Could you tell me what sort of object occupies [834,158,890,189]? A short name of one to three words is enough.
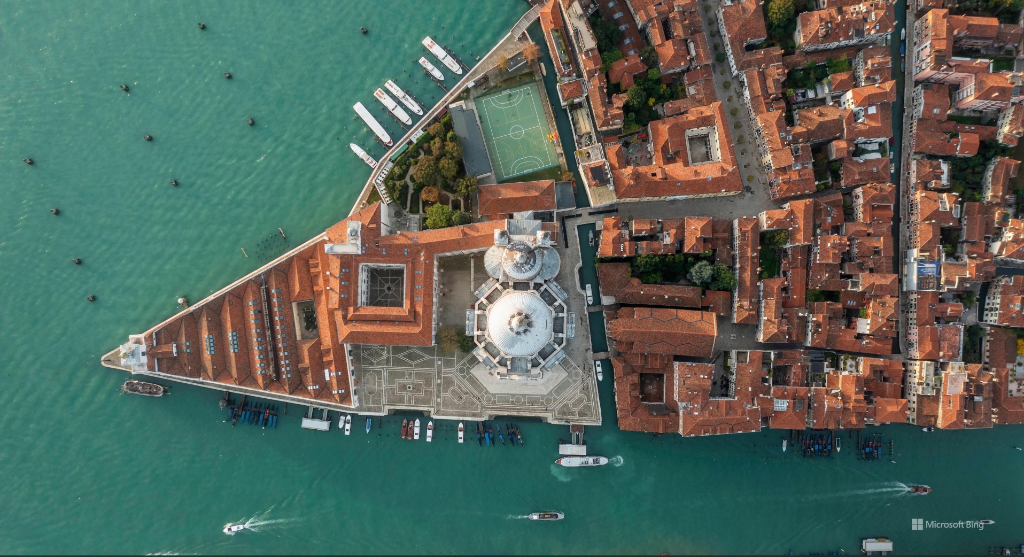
house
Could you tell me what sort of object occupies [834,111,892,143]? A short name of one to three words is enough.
house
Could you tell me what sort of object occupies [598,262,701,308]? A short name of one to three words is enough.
building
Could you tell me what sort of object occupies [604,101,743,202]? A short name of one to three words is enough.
building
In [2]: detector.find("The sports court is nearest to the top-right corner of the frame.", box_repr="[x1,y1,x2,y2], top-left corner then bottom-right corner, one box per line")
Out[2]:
[476,82,560,182]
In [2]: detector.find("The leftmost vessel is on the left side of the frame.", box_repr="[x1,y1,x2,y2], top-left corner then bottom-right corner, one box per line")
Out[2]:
[120,379,167,396]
